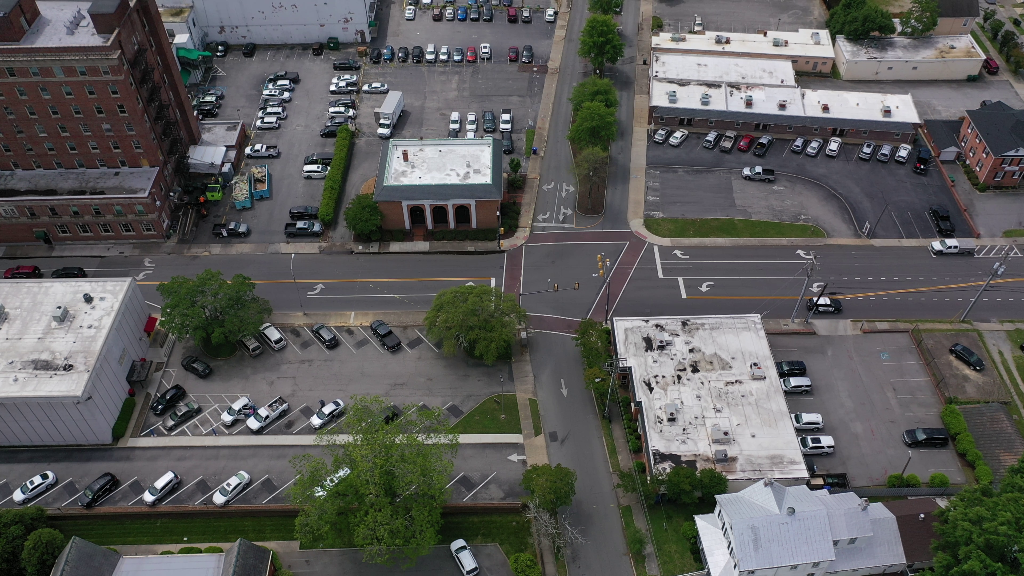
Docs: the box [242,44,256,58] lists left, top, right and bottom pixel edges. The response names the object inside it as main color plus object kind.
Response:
black car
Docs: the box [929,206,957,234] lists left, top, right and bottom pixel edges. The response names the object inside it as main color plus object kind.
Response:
black truck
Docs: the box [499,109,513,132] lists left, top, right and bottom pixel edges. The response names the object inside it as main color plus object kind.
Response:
white vehicle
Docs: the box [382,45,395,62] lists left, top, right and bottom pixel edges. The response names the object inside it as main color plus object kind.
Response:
blue vehicle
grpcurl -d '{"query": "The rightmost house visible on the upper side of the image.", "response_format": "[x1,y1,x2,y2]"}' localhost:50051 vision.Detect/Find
[958,97,1024,182]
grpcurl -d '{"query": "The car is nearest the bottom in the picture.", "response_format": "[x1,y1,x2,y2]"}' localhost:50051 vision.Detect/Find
[447,536,483,576]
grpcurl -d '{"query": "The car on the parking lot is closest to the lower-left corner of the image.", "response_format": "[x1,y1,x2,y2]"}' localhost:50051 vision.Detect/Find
[13,469,59,507]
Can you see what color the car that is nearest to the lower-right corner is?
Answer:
black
